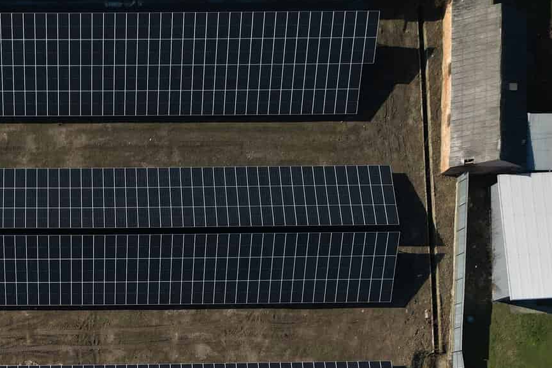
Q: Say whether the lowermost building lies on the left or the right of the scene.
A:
right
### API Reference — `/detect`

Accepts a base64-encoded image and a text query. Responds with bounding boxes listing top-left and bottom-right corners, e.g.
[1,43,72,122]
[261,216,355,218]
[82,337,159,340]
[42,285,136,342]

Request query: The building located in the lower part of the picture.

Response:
[480,172,552,306]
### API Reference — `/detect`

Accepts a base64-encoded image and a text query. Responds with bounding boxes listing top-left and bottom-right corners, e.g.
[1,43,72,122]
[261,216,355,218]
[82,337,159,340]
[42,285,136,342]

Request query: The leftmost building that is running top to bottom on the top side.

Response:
[440,1,525,177]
